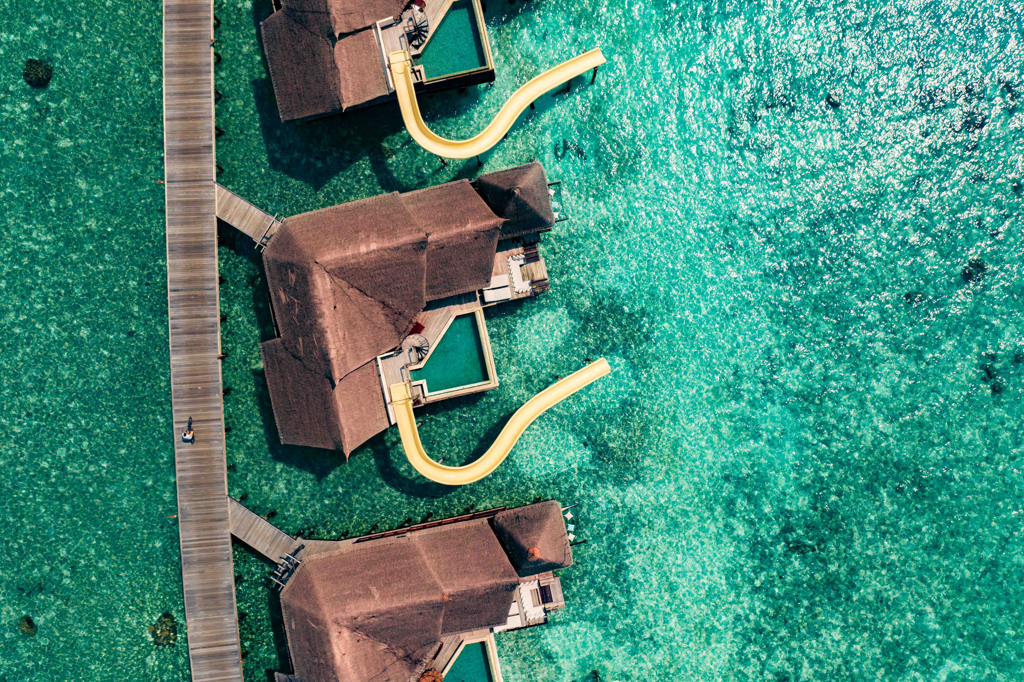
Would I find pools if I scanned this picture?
Yes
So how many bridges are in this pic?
2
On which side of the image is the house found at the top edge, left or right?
left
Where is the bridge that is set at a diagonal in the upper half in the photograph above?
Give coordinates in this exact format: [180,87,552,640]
[215,183,278,248]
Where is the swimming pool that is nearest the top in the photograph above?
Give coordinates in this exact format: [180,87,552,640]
[409,0,498,100]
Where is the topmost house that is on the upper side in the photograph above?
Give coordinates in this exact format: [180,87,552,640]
[256,0,448,137]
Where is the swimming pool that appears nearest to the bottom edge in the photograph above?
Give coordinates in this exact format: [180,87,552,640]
[438,633,507,682]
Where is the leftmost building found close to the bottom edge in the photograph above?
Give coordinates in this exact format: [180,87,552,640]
[274,505,527,682]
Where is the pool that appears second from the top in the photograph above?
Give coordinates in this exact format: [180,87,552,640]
[408,307,500,408]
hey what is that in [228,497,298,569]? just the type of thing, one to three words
bridge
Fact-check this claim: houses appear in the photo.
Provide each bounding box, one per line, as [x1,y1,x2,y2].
[256,0,448,137]
[258,178,509,460]
[274,505,527,682]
